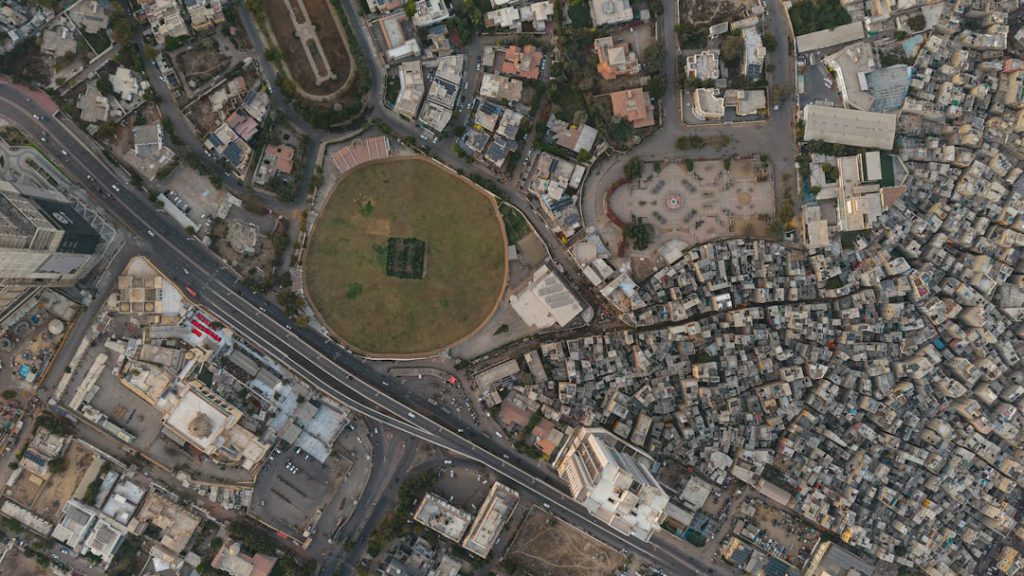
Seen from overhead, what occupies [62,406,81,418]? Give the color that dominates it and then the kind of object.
gray vehicle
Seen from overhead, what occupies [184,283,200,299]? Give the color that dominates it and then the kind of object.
red vehicle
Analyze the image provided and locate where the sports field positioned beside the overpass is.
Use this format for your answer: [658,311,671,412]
[304,156,507,358]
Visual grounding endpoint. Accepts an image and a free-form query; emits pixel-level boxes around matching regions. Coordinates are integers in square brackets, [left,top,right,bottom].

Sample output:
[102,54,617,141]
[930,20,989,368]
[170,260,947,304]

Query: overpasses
[202,276,707,576]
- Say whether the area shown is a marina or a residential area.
residential area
